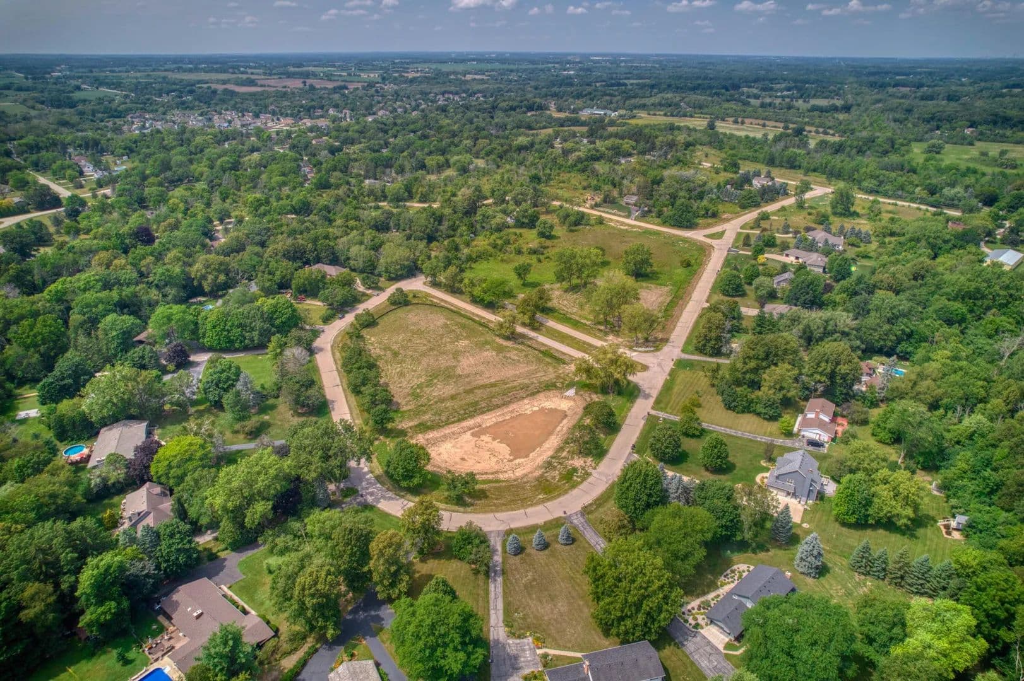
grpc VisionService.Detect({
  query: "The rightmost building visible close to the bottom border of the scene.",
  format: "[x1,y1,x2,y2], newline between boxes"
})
[702,568,797,650]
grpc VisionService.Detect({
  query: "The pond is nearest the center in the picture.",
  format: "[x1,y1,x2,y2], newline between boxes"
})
[471,412,566,461]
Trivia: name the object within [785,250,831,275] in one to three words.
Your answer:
house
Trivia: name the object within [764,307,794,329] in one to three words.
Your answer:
house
